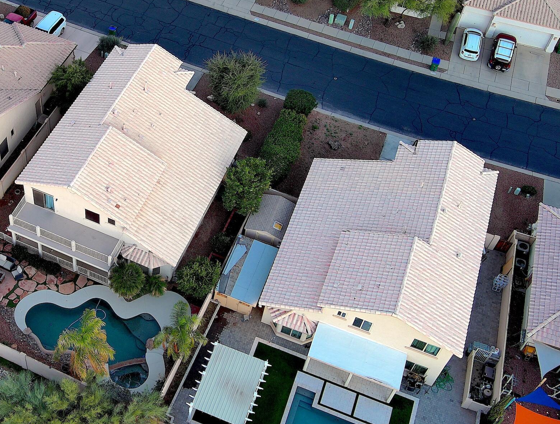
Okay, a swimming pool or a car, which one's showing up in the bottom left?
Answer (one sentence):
The one visible in the bottom left is a swimming pool.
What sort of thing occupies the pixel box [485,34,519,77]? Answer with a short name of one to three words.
car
